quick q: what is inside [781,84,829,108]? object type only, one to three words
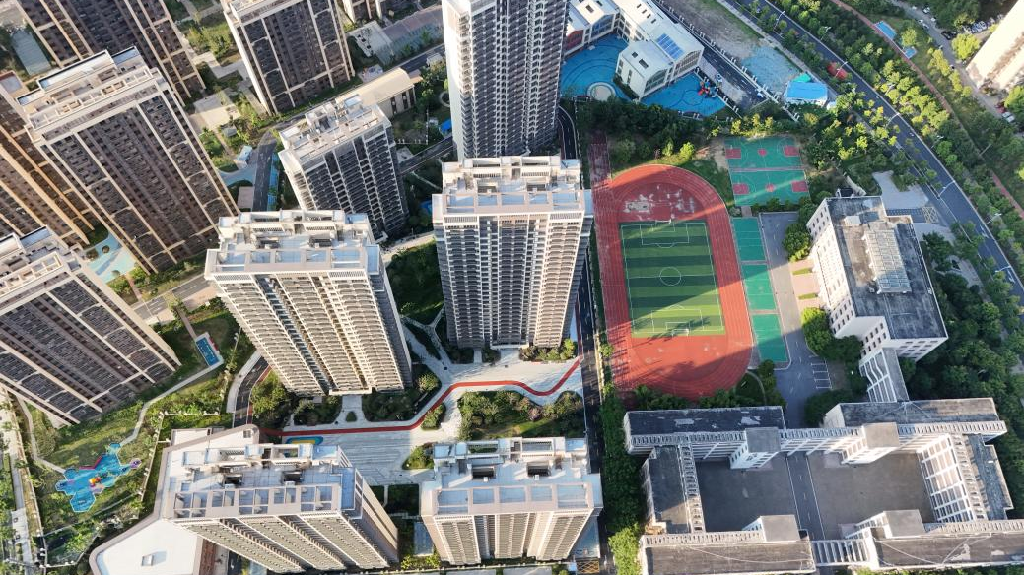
shed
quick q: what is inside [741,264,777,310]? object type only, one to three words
sports court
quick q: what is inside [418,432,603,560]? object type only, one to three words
building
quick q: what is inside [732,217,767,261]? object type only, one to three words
sports court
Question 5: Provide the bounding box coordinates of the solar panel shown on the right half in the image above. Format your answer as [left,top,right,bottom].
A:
[658,32,684,56]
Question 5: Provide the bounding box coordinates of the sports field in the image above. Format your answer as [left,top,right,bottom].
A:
[618,220,727,336]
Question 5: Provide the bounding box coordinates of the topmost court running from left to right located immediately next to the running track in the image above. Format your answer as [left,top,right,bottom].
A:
[724,136,805,169]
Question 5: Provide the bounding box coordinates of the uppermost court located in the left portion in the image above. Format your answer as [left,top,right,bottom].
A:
[193,334,223,365]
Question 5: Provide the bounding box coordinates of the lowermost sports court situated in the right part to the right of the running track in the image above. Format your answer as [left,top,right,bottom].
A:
[751,314,789,363]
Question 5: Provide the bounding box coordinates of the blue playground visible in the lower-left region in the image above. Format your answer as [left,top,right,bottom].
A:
[57,443,128,512]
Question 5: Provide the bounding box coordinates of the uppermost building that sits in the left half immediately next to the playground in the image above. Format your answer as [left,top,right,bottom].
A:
[0,223,183,423]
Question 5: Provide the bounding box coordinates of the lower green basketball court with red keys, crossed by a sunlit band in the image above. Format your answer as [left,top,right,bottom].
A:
[729,169,812,205]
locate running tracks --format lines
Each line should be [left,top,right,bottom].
[581,134,753,410]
